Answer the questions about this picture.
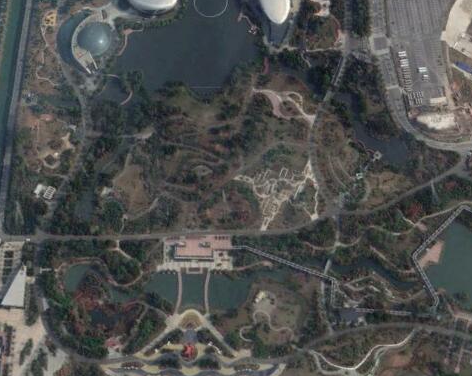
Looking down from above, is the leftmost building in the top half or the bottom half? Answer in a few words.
bottom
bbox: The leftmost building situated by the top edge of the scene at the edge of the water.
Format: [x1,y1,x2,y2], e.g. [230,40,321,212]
[60,8,113,74]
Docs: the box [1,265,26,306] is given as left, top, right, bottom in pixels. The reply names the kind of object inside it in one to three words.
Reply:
building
